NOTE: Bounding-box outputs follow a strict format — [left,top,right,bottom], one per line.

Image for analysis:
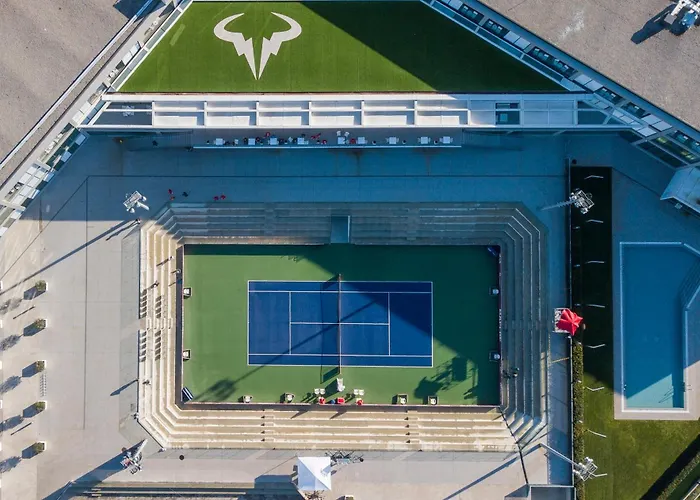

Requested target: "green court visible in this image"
[183,246,500,405]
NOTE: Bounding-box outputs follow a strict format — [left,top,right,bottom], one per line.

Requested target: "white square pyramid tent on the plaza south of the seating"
[295,453,331,491]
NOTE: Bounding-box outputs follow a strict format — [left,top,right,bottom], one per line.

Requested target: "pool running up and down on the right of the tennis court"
[616,241,700,411]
